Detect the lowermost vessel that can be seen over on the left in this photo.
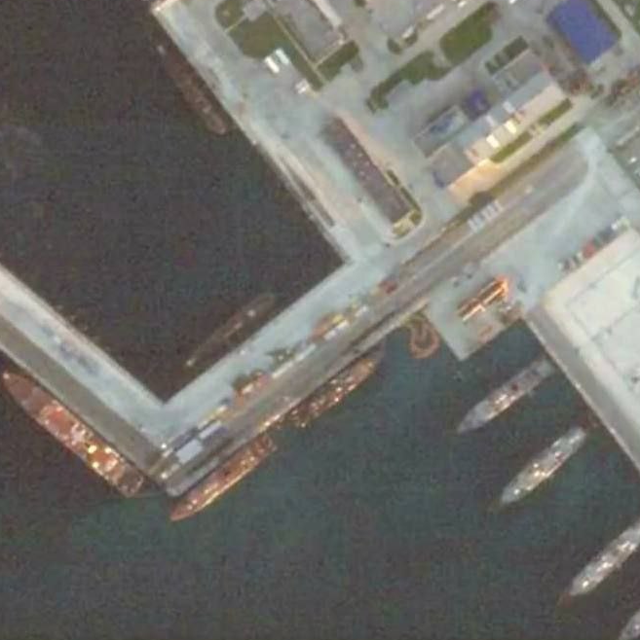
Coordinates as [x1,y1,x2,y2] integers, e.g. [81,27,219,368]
[171,437,281,521]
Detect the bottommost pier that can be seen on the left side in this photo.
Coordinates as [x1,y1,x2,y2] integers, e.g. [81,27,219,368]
[0,262,426,496]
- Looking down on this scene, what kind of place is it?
port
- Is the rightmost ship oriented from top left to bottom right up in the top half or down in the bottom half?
top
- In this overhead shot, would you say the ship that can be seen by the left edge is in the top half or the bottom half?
bottom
